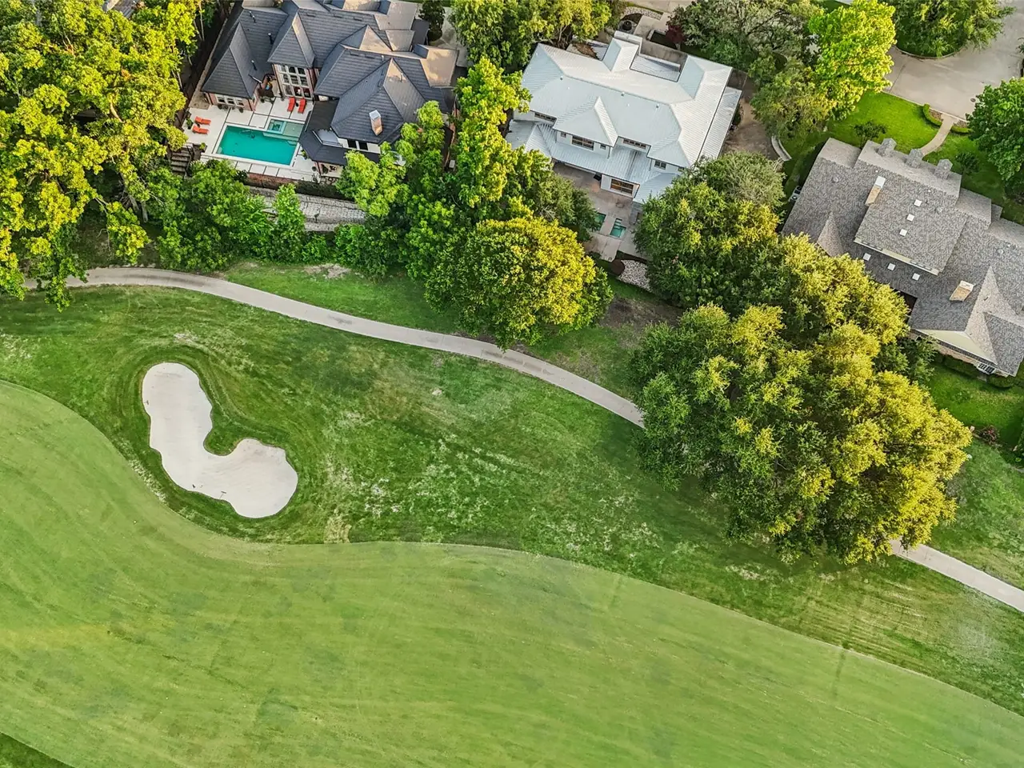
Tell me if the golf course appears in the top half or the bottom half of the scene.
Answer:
bottom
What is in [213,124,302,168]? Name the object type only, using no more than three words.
swimming pool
